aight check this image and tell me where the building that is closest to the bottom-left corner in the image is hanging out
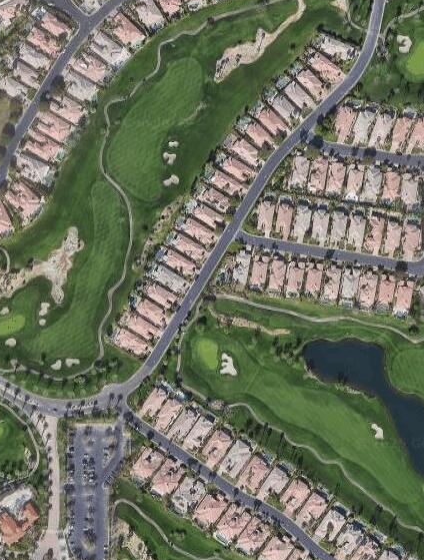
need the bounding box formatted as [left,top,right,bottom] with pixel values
[0,505,41,545]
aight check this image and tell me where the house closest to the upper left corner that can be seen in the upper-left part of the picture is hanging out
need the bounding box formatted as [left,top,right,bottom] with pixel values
[0,0,29,24]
